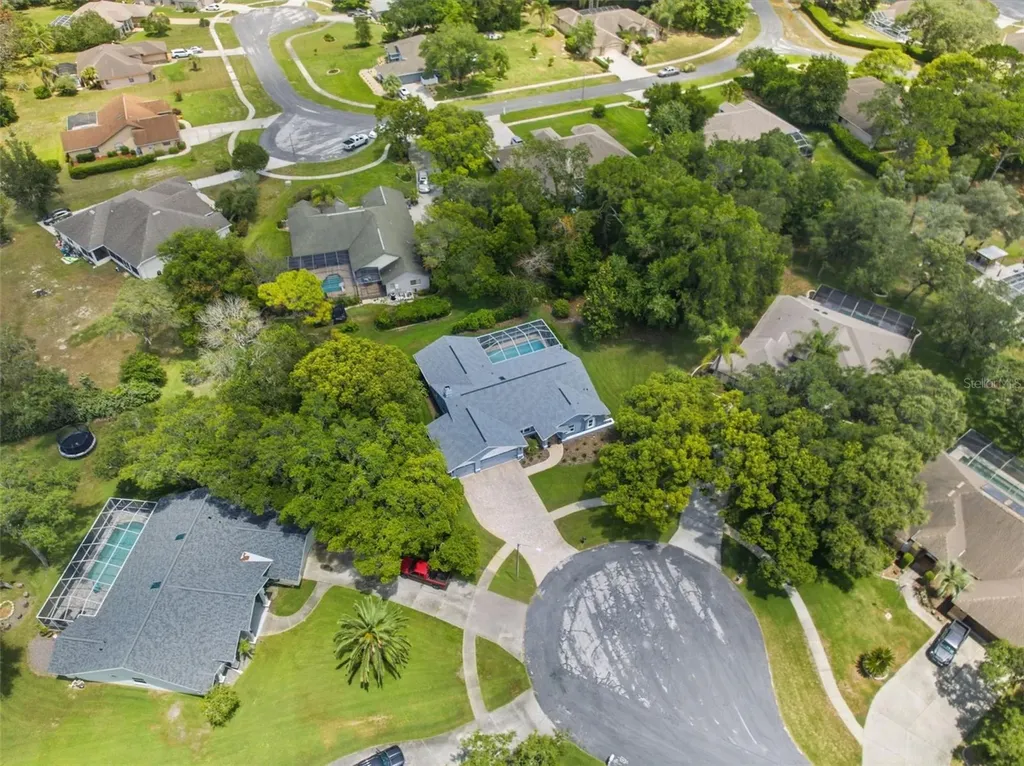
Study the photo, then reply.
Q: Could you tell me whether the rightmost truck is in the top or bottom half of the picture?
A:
bottom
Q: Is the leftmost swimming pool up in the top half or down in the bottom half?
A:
bottom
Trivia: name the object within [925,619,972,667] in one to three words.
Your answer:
truck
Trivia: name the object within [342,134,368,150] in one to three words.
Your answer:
vehicle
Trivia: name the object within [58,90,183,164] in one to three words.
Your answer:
house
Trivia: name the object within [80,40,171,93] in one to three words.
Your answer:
house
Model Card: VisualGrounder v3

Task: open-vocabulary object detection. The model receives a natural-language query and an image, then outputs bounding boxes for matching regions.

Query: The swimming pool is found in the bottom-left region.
[49,511,147,632]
